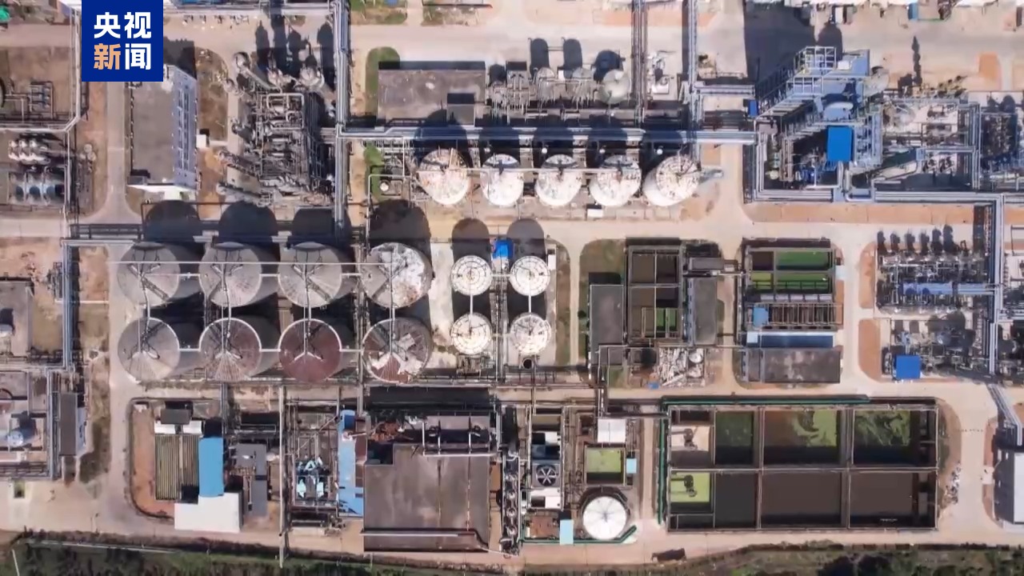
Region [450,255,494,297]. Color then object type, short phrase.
white storage tank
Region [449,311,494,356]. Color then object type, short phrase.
white storage tank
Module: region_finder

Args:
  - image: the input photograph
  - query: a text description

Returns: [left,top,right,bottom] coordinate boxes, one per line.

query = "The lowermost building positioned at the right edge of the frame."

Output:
[991,442,1024,524]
